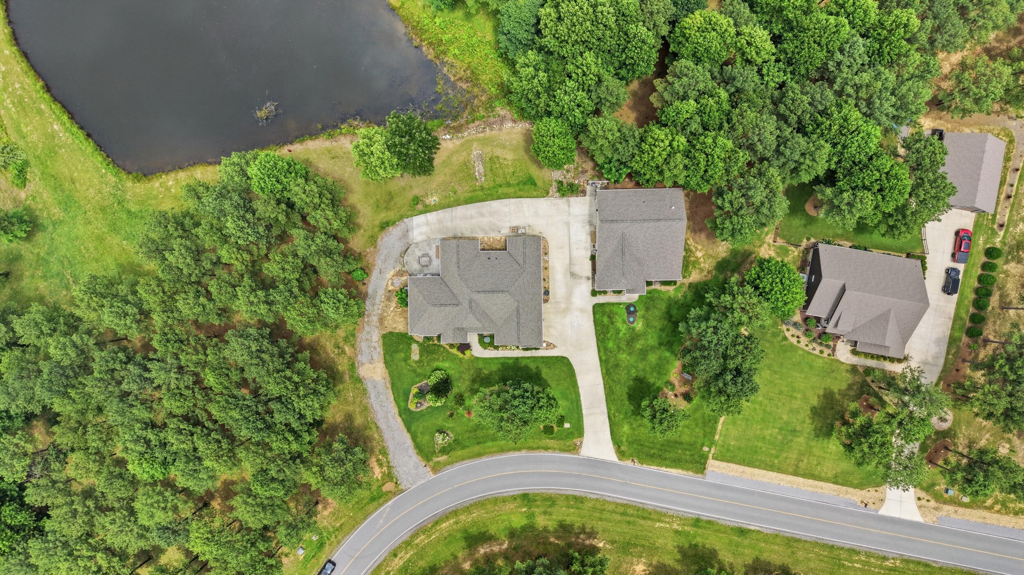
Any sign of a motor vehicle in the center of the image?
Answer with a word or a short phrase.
No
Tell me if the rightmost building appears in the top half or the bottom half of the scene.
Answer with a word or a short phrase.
top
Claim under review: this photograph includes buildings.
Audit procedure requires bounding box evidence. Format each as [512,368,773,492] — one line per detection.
[941,131,1006,215]
[595,188,688,294]
[799,243,929,359]
[408,236,544,348]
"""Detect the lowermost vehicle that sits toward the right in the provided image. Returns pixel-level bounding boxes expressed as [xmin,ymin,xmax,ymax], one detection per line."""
[945,267,964,295]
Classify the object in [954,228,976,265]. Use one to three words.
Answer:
truck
